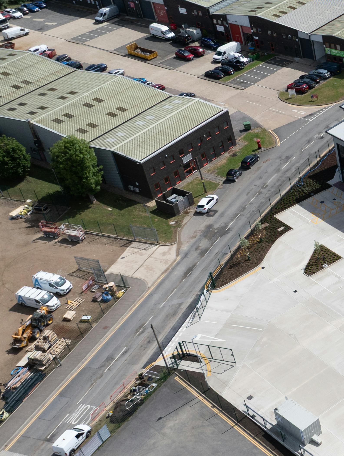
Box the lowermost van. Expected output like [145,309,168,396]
[49,426,94,456]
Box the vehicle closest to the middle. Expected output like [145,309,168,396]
[193,195,222,212]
